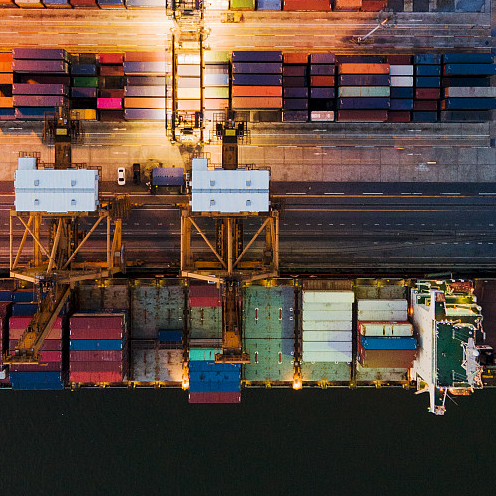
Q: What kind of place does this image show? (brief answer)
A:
port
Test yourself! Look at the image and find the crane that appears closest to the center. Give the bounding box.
[162,105,293,360]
